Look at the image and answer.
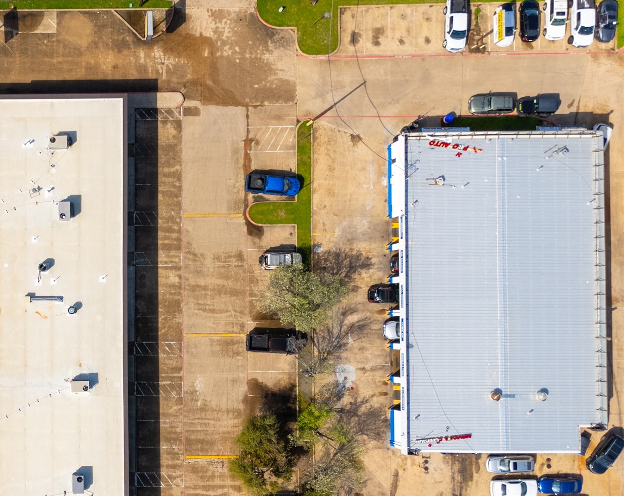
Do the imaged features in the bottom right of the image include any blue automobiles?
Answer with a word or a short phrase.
Yes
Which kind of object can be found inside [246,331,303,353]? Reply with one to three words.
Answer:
truck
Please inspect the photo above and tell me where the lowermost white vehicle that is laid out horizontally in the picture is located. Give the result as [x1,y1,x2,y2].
[488,477,534,496]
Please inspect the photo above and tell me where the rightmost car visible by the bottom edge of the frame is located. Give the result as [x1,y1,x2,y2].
[583,427,624,475]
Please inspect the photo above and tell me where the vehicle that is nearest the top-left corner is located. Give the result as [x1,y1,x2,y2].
[244,173,300,197]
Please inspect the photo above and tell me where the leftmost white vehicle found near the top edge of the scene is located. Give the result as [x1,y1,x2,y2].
[444,0,470,52]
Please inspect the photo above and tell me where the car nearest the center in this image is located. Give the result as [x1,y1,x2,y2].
[260,250,304,271]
